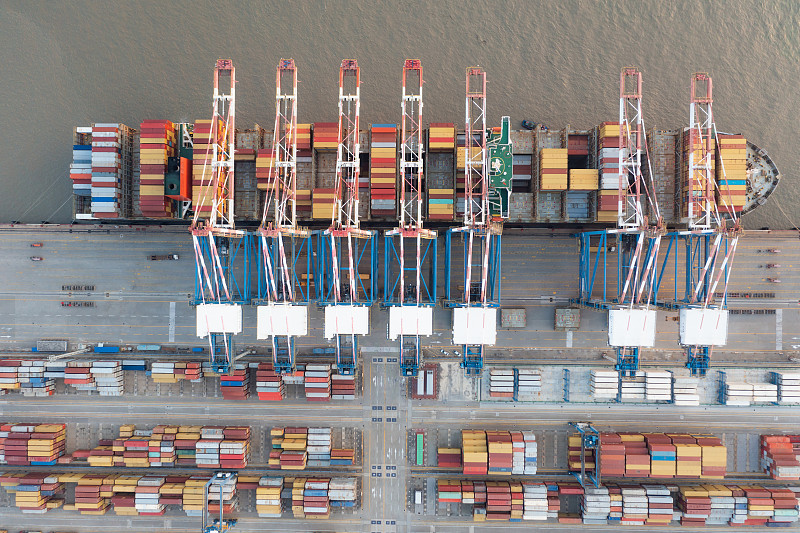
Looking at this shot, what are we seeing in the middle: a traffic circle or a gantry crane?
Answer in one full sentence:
The feature located in the middle is a gantry crane.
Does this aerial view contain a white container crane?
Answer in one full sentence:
Yes, there is a white container crane in the image.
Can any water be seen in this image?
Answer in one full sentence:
Yes, water shows up in the scene.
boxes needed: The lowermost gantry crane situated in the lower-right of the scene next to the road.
[563,421,602,490]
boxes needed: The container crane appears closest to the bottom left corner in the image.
[202,471,241,533]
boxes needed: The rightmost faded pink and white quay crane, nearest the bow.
[641,66,743,389]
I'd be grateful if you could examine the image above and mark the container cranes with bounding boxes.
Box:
[315,59,385,381]
[563,421,602,490]
[377,59,443,382]
[188,59,273,380]
[438,66,505,386]
[252,59,331,381]
[641,66,743,389]
[572,66,666,388]
[202,471,241,533]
